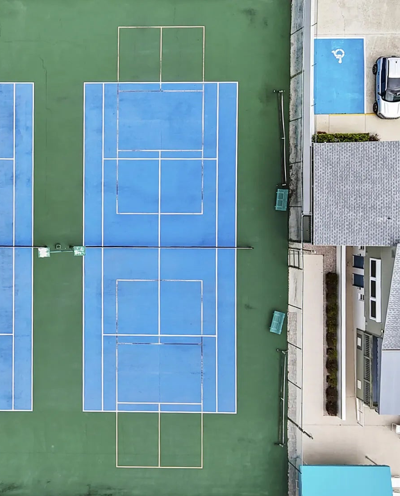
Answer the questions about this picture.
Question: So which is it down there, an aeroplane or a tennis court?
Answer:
tennis court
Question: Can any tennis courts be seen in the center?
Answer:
Yes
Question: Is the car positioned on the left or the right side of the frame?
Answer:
right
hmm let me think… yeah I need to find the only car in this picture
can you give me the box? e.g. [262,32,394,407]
[372,55,400,120]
